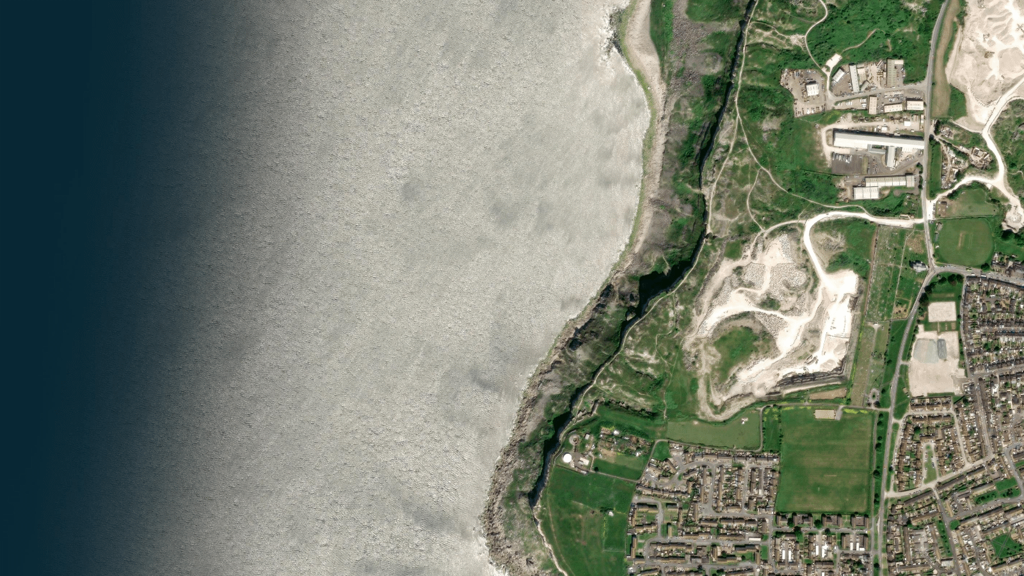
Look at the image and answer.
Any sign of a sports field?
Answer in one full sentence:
Yes, looking at the shot, I can spot a sports field.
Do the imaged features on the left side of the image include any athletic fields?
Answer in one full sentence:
No, no athletic field appears on the left side of the image.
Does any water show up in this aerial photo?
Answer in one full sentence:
Yes, the picture does contain water.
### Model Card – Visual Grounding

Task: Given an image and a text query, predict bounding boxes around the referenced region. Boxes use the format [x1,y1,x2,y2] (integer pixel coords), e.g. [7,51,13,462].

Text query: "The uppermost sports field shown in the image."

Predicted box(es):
[935,217,995,267]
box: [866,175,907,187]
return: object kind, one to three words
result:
shed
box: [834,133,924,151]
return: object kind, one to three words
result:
shed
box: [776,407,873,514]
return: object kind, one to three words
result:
sports field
